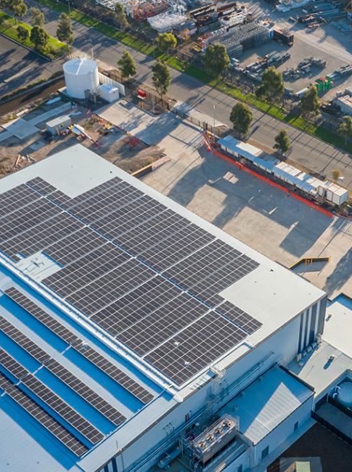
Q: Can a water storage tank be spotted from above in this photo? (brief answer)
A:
Yes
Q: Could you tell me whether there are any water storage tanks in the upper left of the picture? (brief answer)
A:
Yes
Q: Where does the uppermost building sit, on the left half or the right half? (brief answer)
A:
left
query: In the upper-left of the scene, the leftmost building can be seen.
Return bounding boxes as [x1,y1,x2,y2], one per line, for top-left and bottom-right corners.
[45,116,72,134]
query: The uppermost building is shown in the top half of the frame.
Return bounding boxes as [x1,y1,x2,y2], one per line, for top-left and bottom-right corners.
[100,84,120,106]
